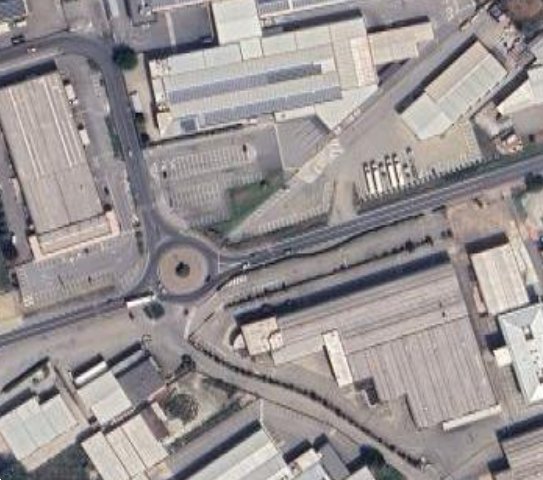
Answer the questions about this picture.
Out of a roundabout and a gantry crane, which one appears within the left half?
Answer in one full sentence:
There is a roundabout within the left half.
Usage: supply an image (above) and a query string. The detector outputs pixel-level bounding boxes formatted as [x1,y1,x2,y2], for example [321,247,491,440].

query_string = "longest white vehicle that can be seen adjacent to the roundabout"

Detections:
[126,293,155,306]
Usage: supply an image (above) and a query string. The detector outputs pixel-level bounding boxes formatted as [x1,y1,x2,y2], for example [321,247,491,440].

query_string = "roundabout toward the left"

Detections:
[149,237,218,305]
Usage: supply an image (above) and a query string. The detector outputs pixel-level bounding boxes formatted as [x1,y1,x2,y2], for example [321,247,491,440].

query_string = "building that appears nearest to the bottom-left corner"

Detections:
[0,395,81,471]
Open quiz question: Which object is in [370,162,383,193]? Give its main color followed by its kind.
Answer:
white vehicle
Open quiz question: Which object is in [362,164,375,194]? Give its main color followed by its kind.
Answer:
white vehicle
